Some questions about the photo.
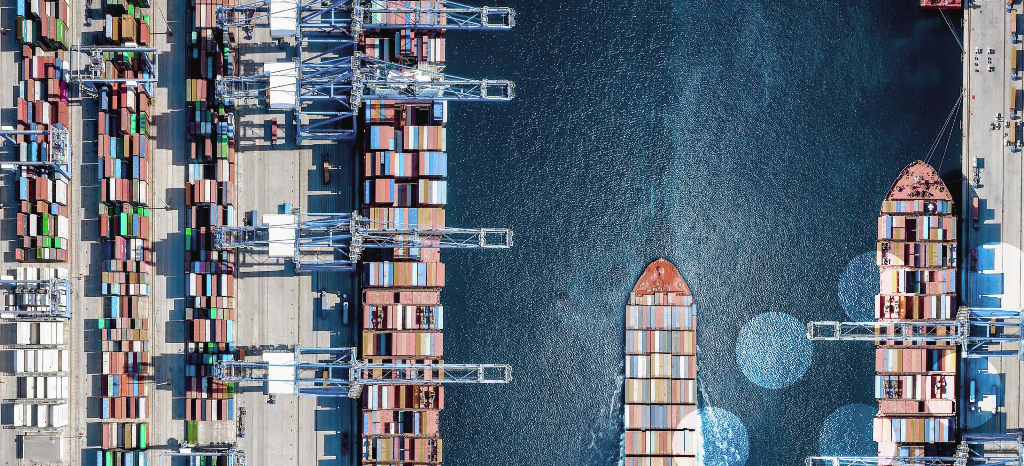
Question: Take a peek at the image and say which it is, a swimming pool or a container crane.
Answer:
container crane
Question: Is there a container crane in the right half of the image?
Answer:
Yes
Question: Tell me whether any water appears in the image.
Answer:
Yes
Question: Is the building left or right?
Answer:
left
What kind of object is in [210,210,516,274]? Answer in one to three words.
container crane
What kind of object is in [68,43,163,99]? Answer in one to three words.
container crane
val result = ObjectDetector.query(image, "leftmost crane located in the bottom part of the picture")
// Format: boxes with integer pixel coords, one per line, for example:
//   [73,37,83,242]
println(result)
[0,276,77,328]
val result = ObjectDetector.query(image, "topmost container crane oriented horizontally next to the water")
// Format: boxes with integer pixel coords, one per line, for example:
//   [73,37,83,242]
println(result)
[210,0,516,67]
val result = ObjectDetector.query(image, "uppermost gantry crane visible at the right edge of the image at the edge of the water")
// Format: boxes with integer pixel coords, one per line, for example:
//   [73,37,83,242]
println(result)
[809,301,1024,362]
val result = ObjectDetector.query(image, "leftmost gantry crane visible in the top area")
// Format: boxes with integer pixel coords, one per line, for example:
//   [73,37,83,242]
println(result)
[0,124,77,179]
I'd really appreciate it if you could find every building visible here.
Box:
[19,437,66,461]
